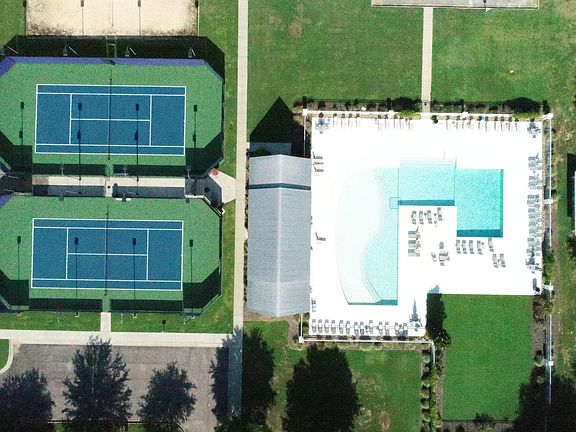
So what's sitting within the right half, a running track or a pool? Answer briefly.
pool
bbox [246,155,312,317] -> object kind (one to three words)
building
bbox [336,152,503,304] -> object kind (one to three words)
swimming pool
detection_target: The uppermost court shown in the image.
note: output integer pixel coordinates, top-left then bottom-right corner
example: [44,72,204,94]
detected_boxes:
[25,0,199,38]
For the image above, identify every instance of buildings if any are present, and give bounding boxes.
[567,170,576,230]
[246,155,312,317]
